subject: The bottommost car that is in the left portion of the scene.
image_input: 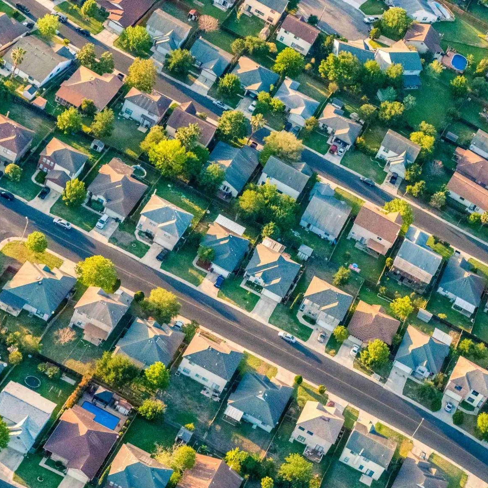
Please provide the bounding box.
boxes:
[172,316,185,333]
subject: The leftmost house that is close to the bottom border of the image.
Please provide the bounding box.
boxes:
[0,380,58,470]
